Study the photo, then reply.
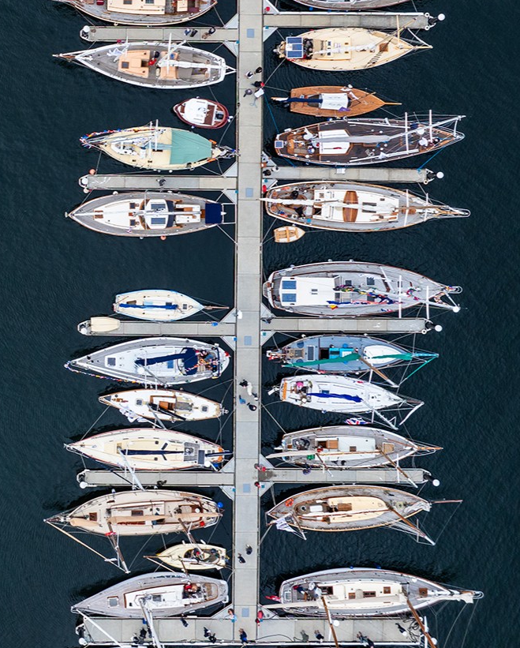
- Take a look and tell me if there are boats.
Yes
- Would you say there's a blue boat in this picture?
Yes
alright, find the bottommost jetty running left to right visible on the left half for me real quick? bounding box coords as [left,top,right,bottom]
[78,602,233,647]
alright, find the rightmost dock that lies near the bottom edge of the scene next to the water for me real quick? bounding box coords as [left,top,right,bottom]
[258,604,424,648]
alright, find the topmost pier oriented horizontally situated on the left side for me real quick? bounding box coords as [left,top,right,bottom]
[79,15,237,55]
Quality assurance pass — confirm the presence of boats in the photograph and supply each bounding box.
[65,338,230,389]
[254,183,470,233]
[64,429,233,493]
[269,376,424,431]
[113,289,230,321]
[90,316,119,332]
[362,344,402,363]
[71,575,228,648]
[80,118,239,171]
[271,87,403,117]
[267,486,464,547]
[275,16,434,70]
[172,98,234,127]
[51,0,217,25]
[260,568,484,648]
[43,492,223,576]
[65,192,235,236]
[263,262,463,320]
[99,389,227,431]
[143,543,230,574]
[263,426,445,489]
[267,334,440,388]
[275,110,467,164]
[51,34,236,88]
[272,226,306,242]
